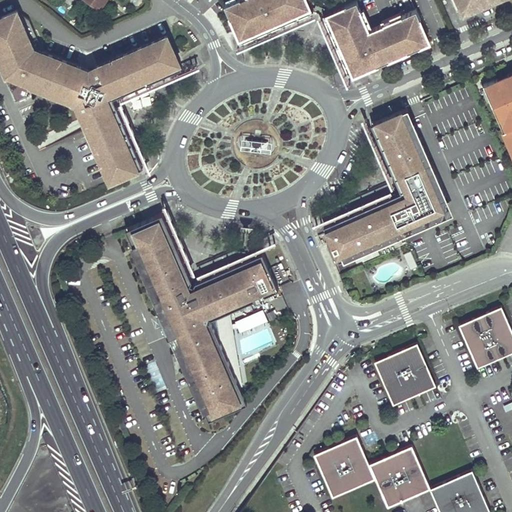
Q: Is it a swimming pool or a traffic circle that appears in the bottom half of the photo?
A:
swimming pool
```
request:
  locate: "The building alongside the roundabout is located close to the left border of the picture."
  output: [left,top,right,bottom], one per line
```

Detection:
[0,12,200,189]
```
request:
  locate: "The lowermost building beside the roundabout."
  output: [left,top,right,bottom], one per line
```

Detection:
[126,208,287,422]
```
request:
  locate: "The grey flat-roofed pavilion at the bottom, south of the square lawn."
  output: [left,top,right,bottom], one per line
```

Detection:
[430,472,490,512]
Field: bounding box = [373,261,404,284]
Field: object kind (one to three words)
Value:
swimming pool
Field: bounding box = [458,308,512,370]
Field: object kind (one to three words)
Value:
building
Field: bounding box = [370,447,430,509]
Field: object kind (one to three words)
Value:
building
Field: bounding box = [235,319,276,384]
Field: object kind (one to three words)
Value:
swimming pool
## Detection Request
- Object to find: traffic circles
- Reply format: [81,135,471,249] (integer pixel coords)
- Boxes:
[164,64,350,222]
